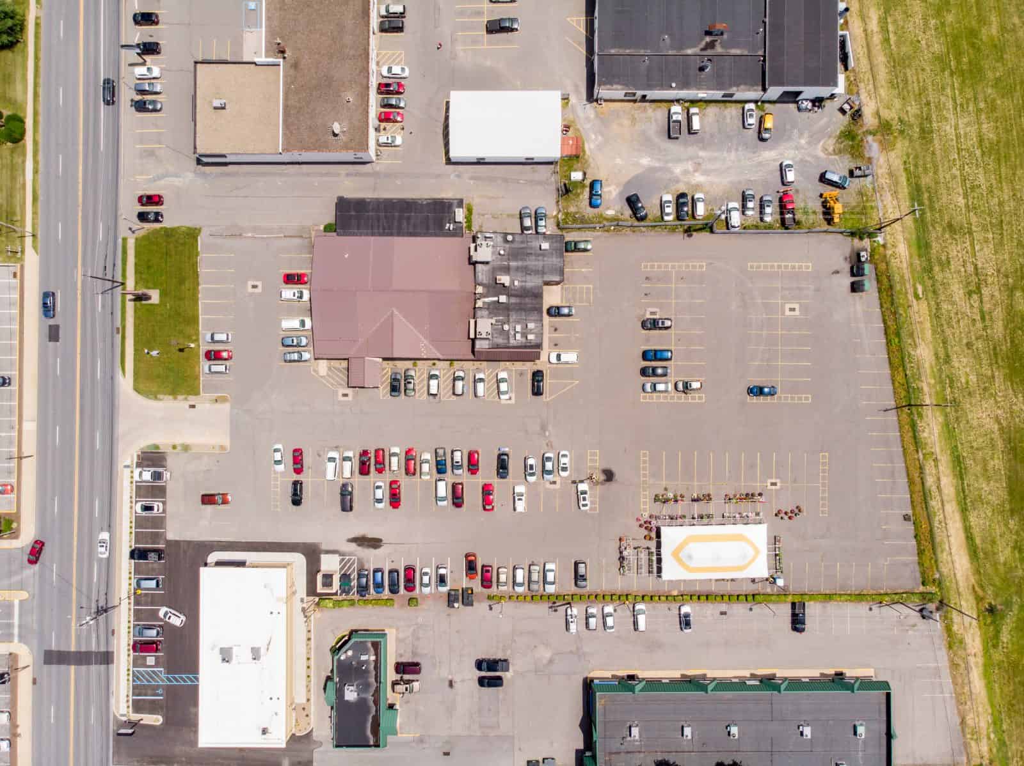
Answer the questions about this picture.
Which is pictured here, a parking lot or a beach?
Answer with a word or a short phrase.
parking lot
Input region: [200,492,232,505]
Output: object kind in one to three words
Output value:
vehicle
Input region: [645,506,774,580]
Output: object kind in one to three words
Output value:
tent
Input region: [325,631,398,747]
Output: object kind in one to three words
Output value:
building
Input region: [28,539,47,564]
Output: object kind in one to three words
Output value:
car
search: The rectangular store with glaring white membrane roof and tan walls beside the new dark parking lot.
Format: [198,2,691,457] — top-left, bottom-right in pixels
[197,558,296,748]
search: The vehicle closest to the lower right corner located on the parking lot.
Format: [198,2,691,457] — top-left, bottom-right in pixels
[791,601,806,633]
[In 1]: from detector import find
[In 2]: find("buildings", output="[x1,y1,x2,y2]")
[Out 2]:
[325,631,398,747]
[197,558,296,748]
[589,679,893,766]
[593,0,855,102]
[193,0,379,165]
[450,91,561,162]
[308,197,564,388]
